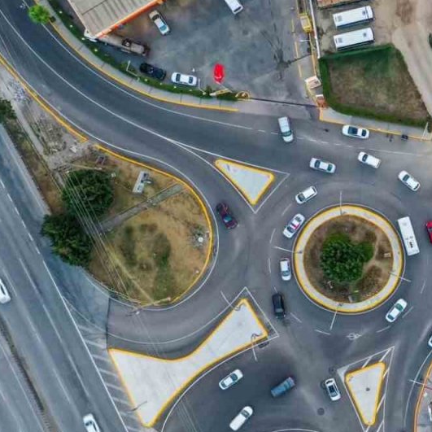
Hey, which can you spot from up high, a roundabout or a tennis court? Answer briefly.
roundabout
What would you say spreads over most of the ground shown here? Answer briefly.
paved ground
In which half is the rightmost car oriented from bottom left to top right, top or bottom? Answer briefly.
bottom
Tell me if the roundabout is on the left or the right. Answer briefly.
right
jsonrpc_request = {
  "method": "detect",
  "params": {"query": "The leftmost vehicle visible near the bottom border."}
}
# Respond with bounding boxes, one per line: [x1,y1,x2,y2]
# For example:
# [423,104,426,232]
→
[81,413,105,432]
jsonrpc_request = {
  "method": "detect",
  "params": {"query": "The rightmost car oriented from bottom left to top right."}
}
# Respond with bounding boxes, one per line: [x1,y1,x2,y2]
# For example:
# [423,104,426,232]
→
[382,297,409,324]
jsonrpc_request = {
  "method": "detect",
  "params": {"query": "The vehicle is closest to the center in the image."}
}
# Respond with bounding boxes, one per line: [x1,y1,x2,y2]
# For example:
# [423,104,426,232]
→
[214,200,238,230]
